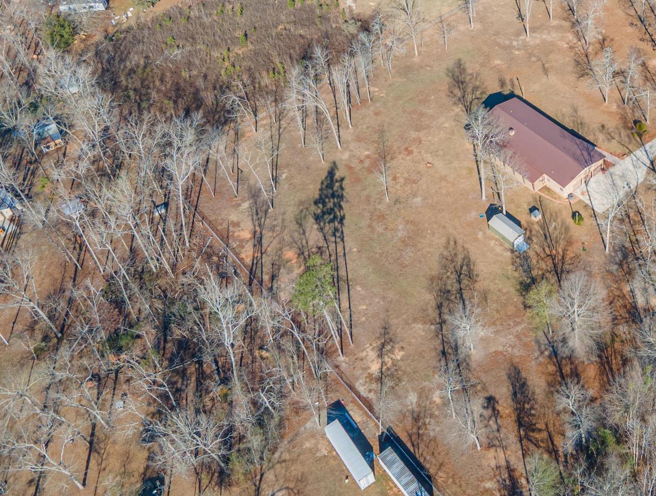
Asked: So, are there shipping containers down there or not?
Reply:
Yes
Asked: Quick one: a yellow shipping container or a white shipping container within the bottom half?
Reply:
white shipping container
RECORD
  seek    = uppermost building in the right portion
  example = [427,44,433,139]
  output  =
[462,101,612,196]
